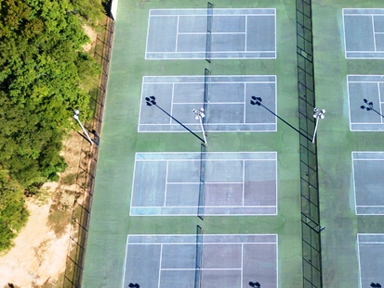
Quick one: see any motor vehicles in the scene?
No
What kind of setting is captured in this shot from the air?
sports ground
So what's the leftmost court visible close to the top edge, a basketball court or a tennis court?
tennis court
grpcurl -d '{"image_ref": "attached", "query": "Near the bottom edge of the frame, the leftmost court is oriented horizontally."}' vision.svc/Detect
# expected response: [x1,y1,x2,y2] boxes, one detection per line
[123,234,278,288]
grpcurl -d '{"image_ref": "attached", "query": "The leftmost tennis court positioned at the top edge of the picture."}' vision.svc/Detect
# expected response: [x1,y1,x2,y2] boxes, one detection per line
[145,9,276,59]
